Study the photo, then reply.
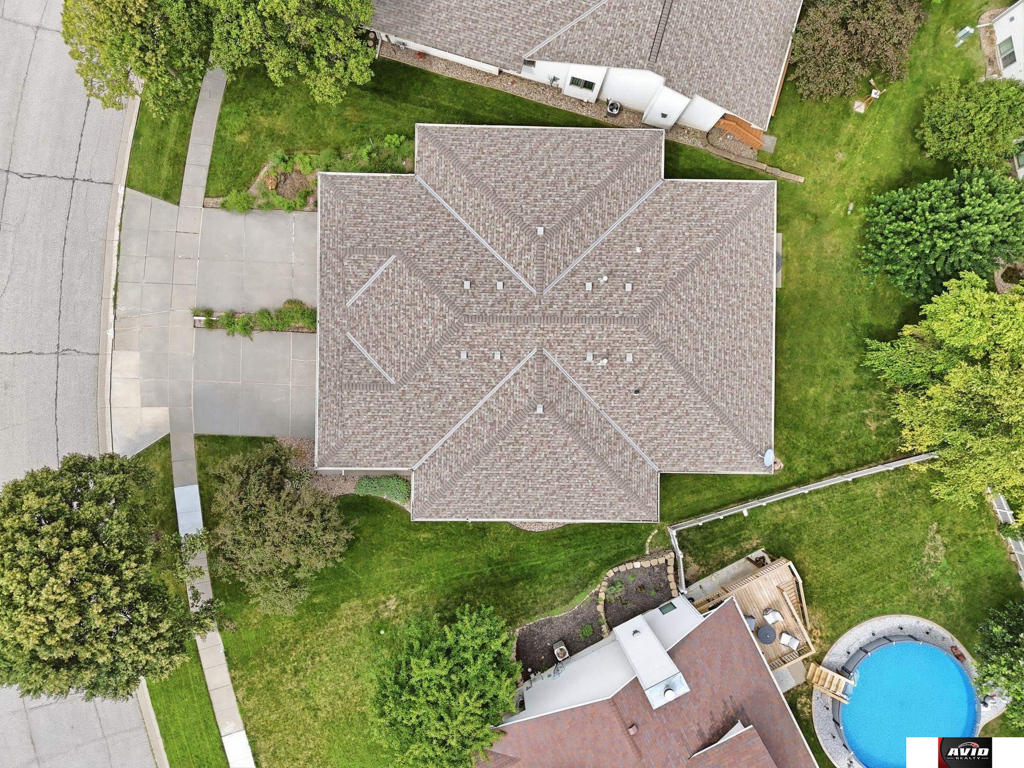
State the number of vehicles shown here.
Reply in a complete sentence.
The count of vehicles is 0.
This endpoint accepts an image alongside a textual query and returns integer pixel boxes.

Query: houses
[439,595,833,768]
[976,0,1024,83]
[312,123,780,526]
[357,0,803,132]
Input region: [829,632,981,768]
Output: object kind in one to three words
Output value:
swimming pool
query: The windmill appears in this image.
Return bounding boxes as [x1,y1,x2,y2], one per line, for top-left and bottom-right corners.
[854,77,890,113]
